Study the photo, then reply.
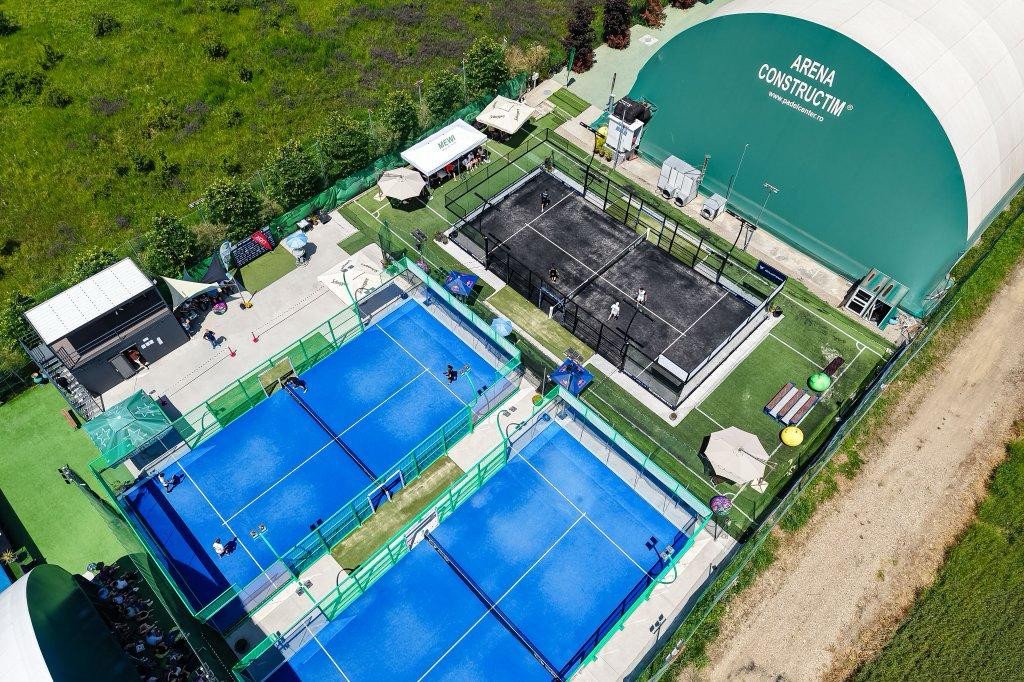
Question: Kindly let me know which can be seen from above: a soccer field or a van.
soccer field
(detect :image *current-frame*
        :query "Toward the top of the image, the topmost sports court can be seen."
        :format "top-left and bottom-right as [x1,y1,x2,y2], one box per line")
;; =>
[442,129,791,411]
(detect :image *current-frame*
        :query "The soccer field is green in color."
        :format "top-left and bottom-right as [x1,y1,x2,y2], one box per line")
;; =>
[335,89,912,548]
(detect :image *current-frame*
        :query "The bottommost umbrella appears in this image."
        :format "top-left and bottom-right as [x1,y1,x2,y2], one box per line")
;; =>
[703,423,773,494]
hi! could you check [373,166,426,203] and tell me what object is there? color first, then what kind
white umbrella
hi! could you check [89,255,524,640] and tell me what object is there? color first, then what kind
blue sports court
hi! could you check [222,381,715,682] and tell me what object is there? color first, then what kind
blue sports court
